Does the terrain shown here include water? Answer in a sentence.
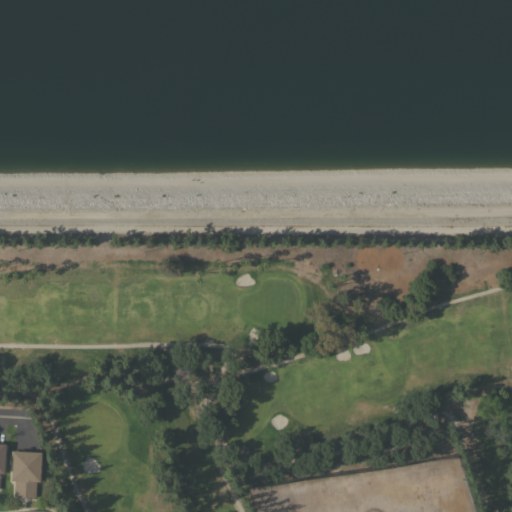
Yes, the picture does contain water.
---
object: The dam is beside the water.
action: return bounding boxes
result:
[0,168,512,269]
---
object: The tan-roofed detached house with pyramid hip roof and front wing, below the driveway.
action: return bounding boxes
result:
[12,452,42,500]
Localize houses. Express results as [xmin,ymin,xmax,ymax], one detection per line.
[12,452,42,500]
[0,444,6,490]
